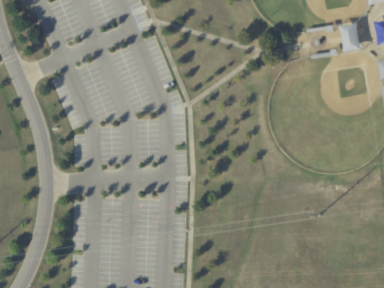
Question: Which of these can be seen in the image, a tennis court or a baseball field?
baseball field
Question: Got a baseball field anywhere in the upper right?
Yes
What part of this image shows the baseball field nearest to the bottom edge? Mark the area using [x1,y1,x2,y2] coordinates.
[270,51,384,173]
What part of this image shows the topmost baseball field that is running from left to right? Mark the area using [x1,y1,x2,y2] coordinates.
[253,0,370,32]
